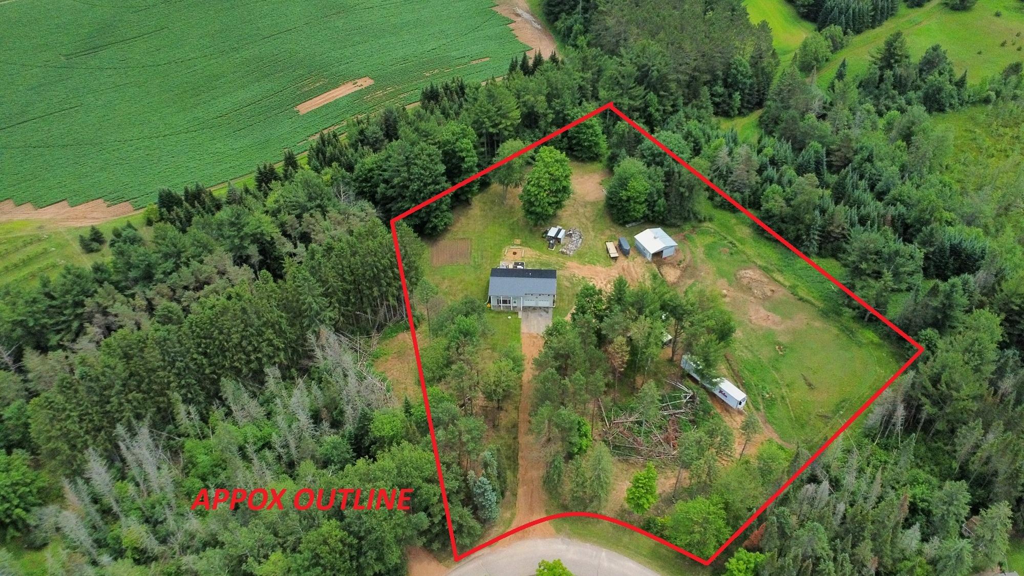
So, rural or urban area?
rural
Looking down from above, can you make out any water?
No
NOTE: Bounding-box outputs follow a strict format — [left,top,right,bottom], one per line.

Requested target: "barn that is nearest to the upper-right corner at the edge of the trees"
[632,228,679,262]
